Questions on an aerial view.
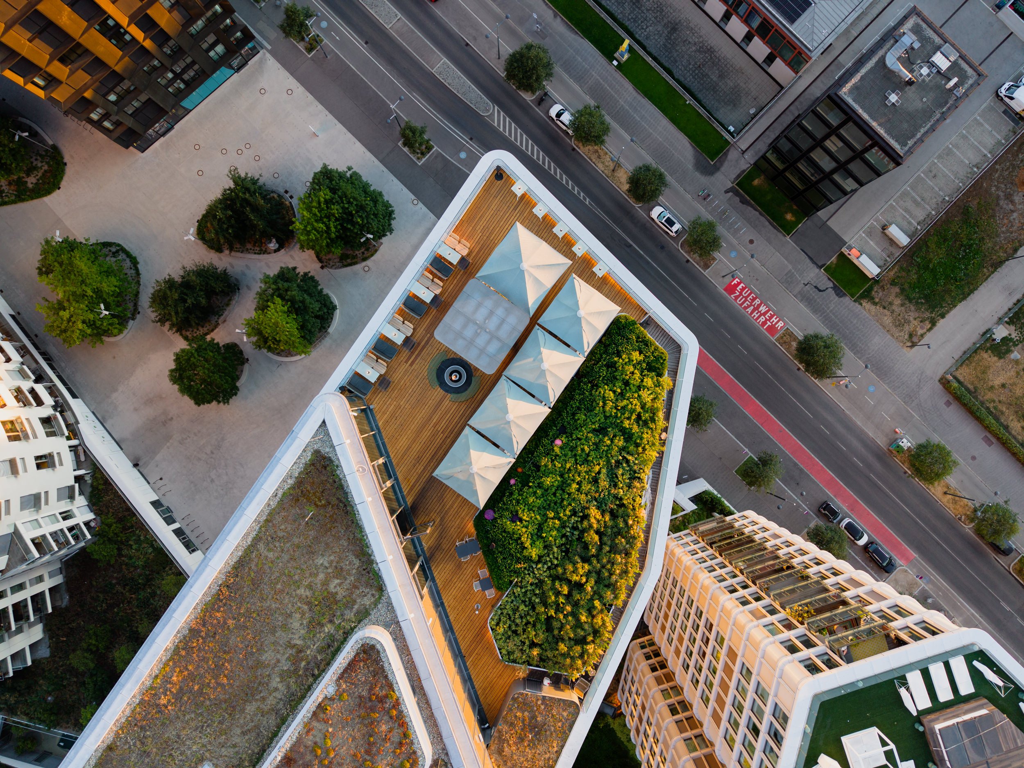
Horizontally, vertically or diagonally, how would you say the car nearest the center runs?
diagonally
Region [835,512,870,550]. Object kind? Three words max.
car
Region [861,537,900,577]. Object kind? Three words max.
car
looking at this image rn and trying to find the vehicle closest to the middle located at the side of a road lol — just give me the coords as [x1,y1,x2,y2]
[646,202,686,241]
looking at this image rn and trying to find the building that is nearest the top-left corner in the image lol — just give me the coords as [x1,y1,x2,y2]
[0,0,258,156]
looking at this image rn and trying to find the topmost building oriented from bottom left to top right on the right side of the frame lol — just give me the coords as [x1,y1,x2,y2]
[752,5,988,218]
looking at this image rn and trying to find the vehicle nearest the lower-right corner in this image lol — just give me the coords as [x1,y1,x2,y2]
[979,531,1018,565]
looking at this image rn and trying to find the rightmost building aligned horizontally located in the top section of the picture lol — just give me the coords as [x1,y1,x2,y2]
[691,0,873,88]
